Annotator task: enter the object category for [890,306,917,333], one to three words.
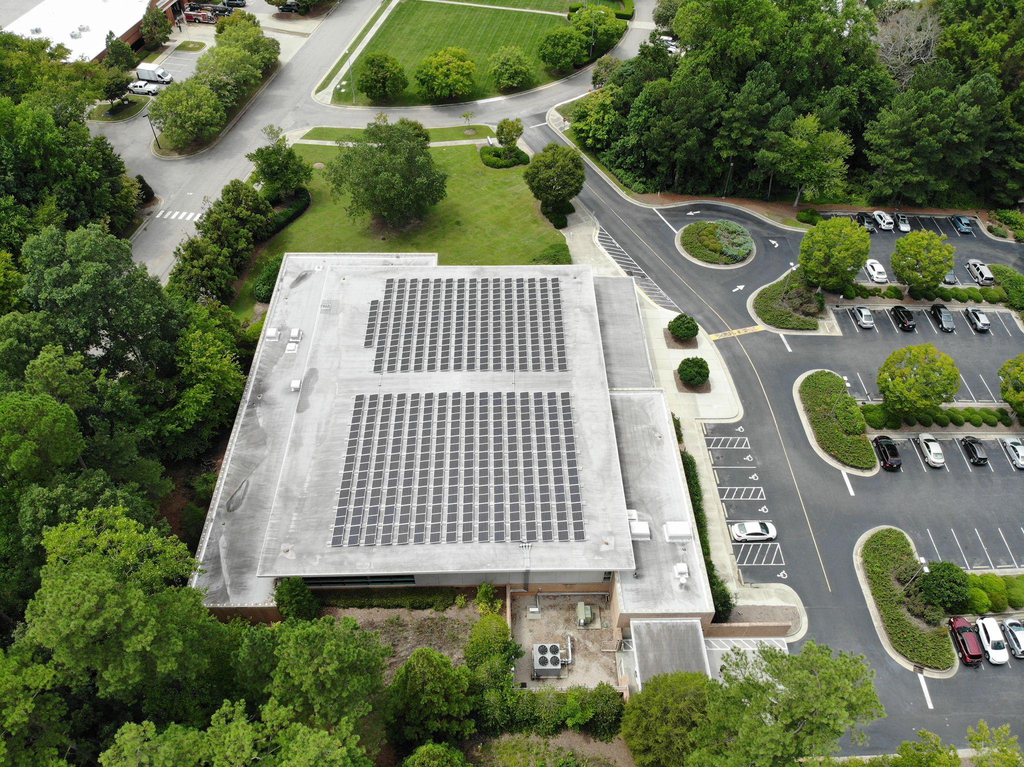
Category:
car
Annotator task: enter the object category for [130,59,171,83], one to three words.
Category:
truck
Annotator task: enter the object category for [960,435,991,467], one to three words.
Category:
car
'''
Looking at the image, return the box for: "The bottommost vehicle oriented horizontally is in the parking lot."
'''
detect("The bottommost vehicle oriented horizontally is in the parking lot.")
[730,520,778,542]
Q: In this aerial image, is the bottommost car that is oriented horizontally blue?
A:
No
